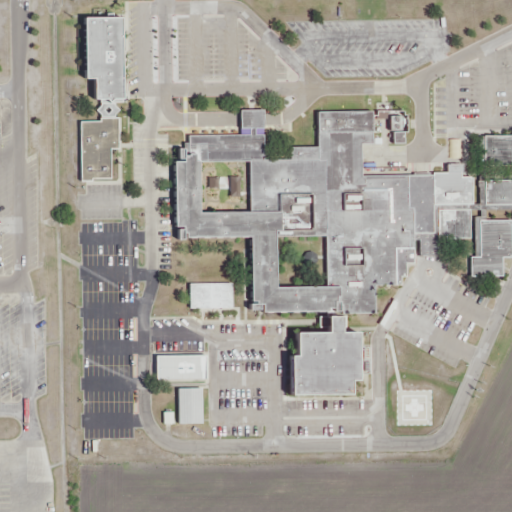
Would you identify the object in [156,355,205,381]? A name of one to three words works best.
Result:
building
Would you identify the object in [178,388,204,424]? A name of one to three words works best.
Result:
shed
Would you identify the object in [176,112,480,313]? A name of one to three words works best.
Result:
building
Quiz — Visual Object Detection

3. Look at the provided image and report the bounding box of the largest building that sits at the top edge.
[85,17,125,100]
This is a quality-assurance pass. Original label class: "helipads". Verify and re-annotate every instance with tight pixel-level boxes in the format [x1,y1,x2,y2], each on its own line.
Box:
[396,390,433,426]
